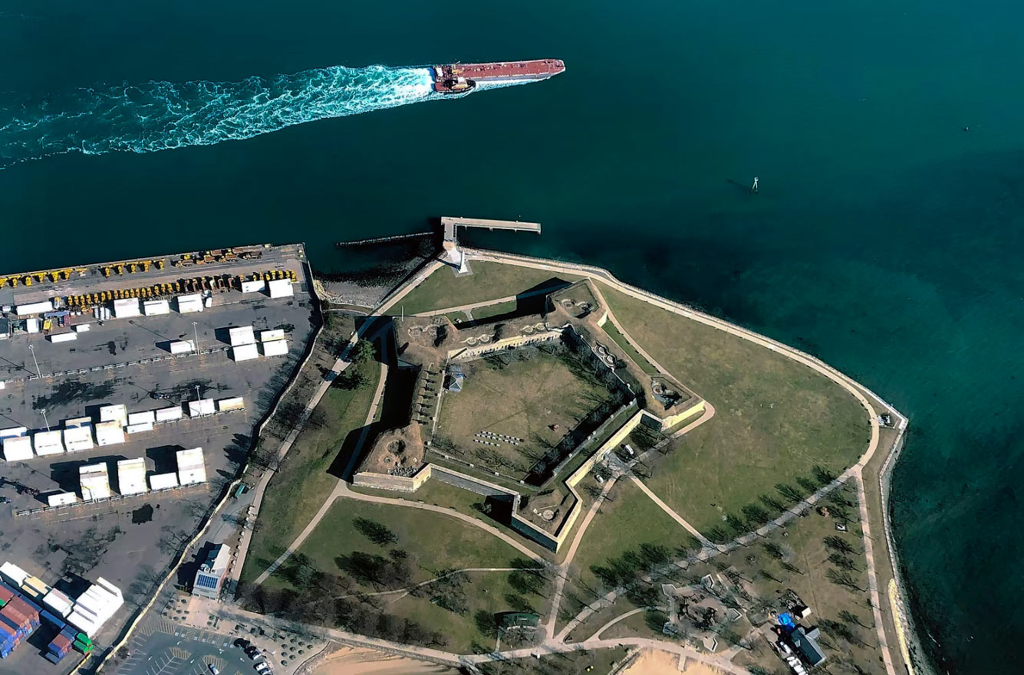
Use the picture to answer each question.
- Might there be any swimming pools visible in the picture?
No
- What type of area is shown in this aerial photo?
port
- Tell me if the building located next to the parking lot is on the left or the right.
left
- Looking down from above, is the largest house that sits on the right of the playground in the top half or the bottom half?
bottom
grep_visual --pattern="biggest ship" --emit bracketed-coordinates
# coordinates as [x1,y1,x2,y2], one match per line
[439,55,559,81]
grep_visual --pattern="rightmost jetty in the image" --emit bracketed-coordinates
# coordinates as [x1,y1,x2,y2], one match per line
[441,215,541,240]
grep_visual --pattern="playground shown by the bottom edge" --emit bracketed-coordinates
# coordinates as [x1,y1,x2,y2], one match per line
[661,573,743,651]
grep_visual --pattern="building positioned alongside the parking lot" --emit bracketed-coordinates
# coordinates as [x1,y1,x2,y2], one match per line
[191,543,232,606]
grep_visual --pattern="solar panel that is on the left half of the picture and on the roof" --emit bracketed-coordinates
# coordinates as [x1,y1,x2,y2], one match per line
[194,572,220,592]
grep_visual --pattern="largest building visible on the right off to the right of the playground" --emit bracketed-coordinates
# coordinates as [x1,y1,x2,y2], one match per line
[791,627,826,669]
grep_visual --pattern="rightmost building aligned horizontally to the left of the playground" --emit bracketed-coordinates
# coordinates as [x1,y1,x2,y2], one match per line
[495,612,540,632]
